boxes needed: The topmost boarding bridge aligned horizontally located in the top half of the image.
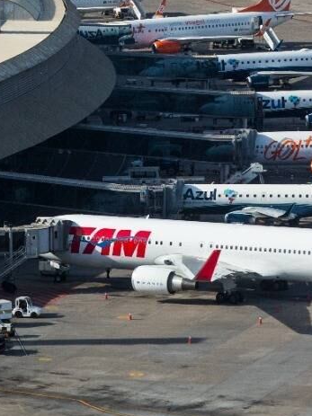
[110,51,218,94]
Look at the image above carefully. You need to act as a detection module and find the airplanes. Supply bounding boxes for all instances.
[249,84,312,124]
[57,210,312,306]
[146,174,312,225]
[229,127,312,174]
[204,39,312,88]
[89,0,312,53]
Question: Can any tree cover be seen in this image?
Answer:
No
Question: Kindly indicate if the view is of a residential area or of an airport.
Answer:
airport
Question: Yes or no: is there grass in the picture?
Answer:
No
